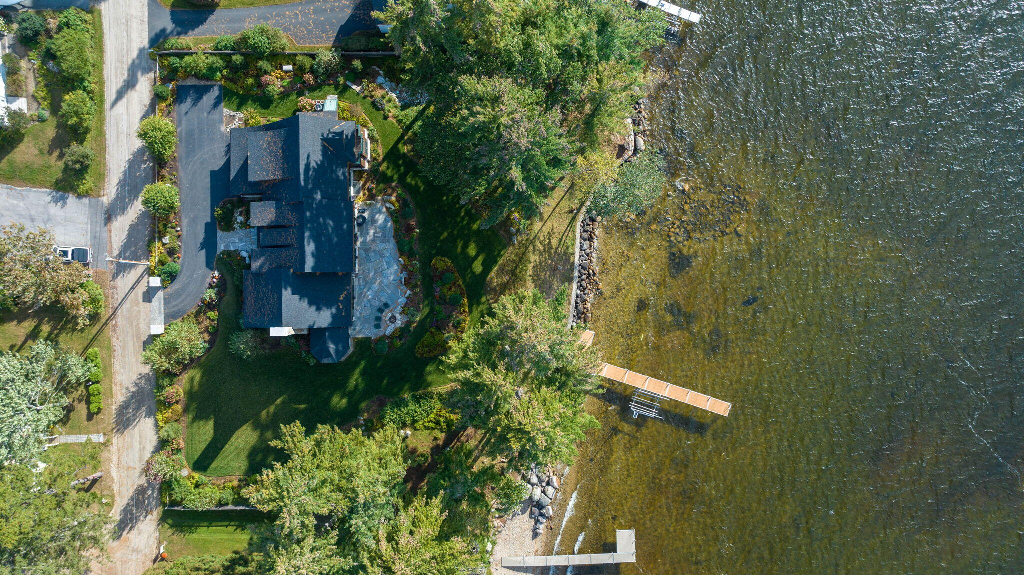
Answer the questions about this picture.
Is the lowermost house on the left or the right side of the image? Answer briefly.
left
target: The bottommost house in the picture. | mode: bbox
[230,110,374,366]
